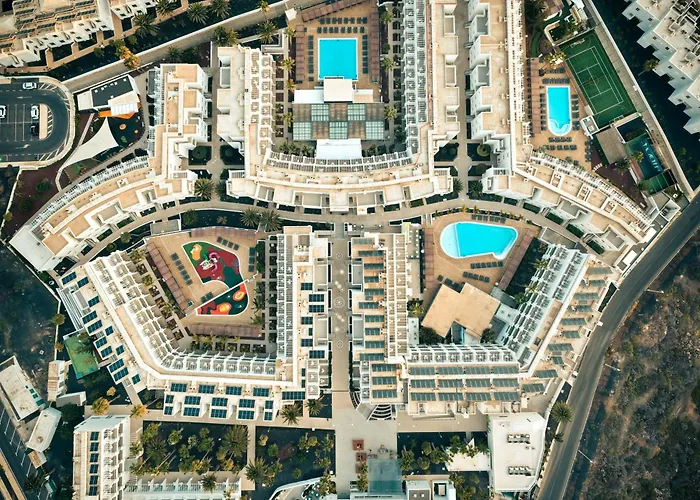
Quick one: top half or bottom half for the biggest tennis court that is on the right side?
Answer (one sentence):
You can find the biggest tennis court that is on the right side in the top half.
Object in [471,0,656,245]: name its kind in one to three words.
building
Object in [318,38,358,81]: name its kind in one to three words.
swimming pool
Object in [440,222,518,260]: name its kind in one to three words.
swimming pool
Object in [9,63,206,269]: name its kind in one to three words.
building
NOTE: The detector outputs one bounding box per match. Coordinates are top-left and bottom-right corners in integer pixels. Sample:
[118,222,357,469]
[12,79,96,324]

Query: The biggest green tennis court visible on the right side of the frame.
[558,29,637,128]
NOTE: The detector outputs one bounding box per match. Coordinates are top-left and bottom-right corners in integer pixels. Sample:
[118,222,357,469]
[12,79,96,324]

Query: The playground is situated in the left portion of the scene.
[182,241,249,316]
